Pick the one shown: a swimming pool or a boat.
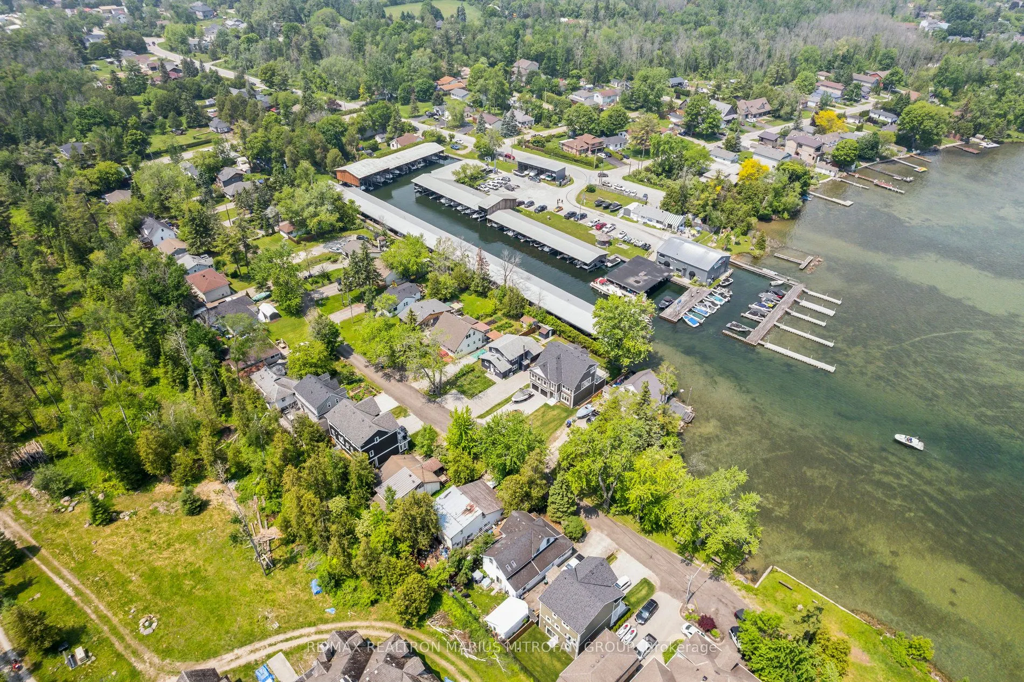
boat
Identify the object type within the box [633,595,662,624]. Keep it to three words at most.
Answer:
car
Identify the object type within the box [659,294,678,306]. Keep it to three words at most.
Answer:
boat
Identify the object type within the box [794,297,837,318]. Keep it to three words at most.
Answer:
pier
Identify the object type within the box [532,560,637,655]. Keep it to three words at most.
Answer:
house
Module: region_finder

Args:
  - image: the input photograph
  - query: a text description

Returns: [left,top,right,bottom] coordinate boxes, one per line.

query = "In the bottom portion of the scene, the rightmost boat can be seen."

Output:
[895,433,928,451]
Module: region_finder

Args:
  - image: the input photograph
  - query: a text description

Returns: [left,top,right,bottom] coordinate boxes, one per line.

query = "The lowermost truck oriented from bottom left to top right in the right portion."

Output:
[632,624,662,662]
